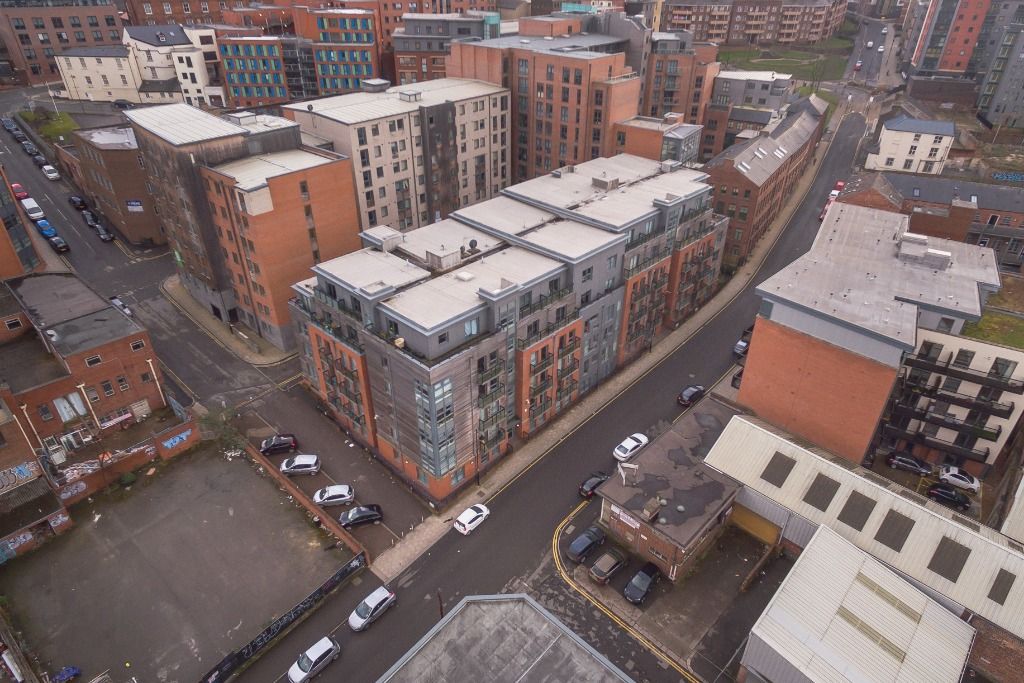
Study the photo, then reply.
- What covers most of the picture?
buildings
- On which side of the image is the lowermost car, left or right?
left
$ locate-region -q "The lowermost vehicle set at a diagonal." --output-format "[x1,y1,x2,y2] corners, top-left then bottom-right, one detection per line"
[284,636,342,683]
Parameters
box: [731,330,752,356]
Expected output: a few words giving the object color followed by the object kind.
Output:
gray car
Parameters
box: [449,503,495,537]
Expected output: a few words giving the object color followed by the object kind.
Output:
white car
